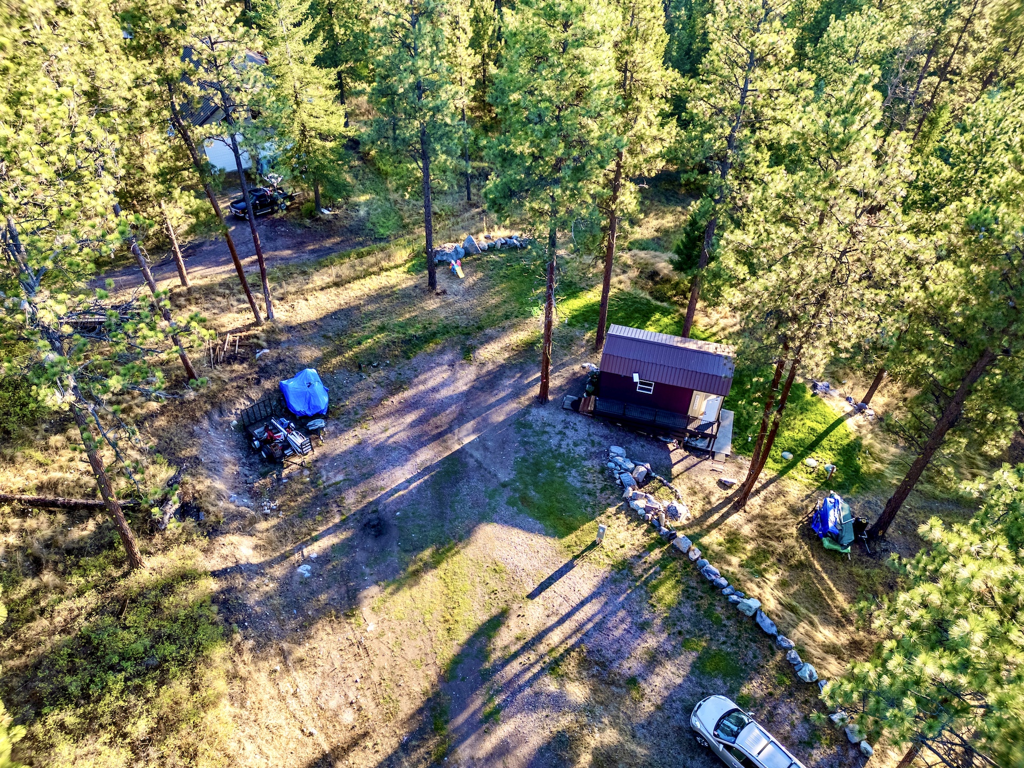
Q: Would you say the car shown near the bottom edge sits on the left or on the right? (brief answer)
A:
right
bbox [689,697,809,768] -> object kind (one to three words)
car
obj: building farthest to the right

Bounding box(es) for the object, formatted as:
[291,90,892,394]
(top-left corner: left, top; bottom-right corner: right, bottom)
[591,325,737,448]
